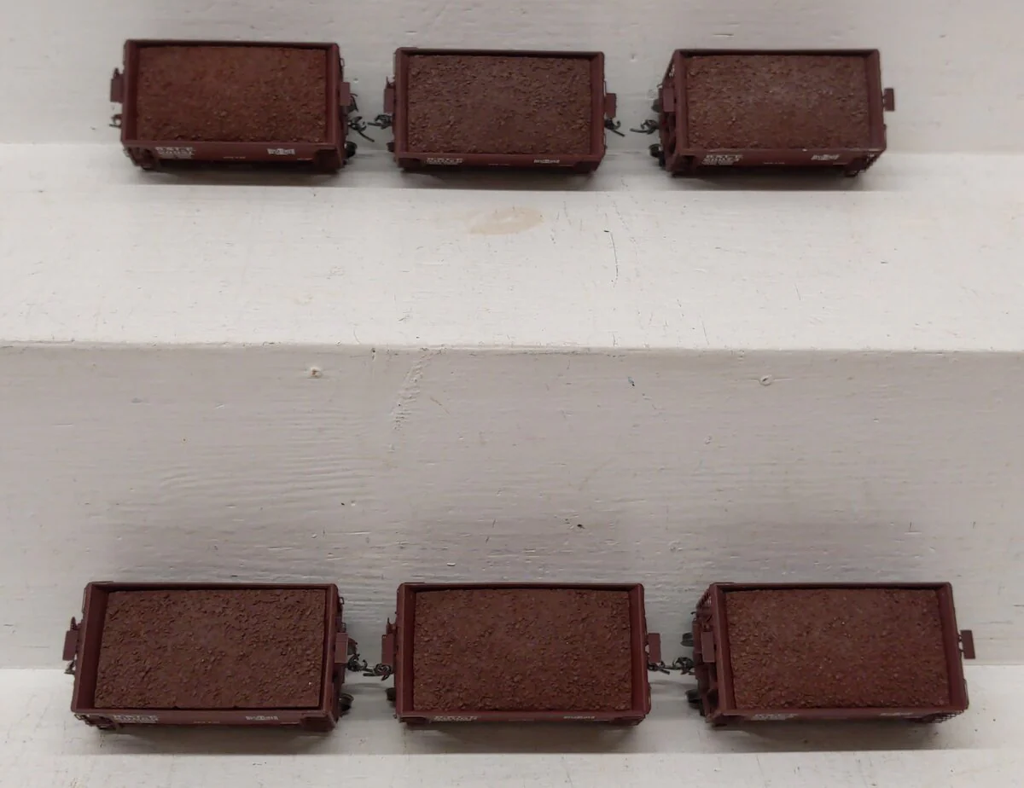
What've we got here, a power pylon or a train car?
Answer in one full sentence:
Looking from above, you can make out a train car.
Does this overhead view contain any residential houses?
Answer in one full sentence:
No, no residential house is visible in the view.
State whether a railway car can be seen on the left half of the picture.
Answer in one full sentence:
Yes, a railway car is visible on the left half of the picture.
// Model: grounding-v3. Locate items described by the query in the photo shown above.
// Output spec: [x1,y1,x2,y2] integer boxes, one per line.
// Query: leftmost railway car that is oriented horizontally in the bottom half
[62,584,376,726]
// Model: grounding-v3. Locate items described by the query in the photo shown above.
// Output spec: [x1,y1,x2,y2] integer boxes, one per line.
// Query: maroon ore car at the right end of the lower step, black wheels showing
[663,584,978,725]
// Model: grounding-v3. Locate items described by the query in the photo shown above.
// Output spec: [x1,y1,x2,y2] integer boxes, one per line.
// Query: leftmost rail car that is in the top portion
[111,44,374,170]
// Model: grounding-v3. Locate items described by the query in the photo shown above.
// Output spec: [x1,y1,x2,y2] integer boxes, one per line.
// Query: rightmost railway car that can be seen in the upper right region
[635,52,897,175]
